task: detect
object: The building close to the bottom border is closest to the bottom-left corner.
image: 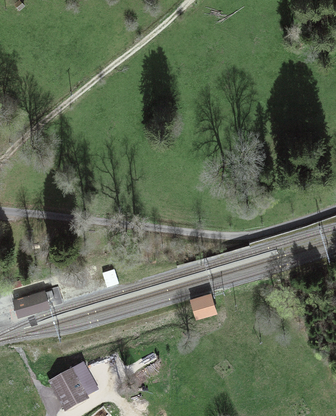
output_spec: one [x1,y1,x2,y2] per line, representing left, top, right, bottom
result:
[50,367,90,410]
